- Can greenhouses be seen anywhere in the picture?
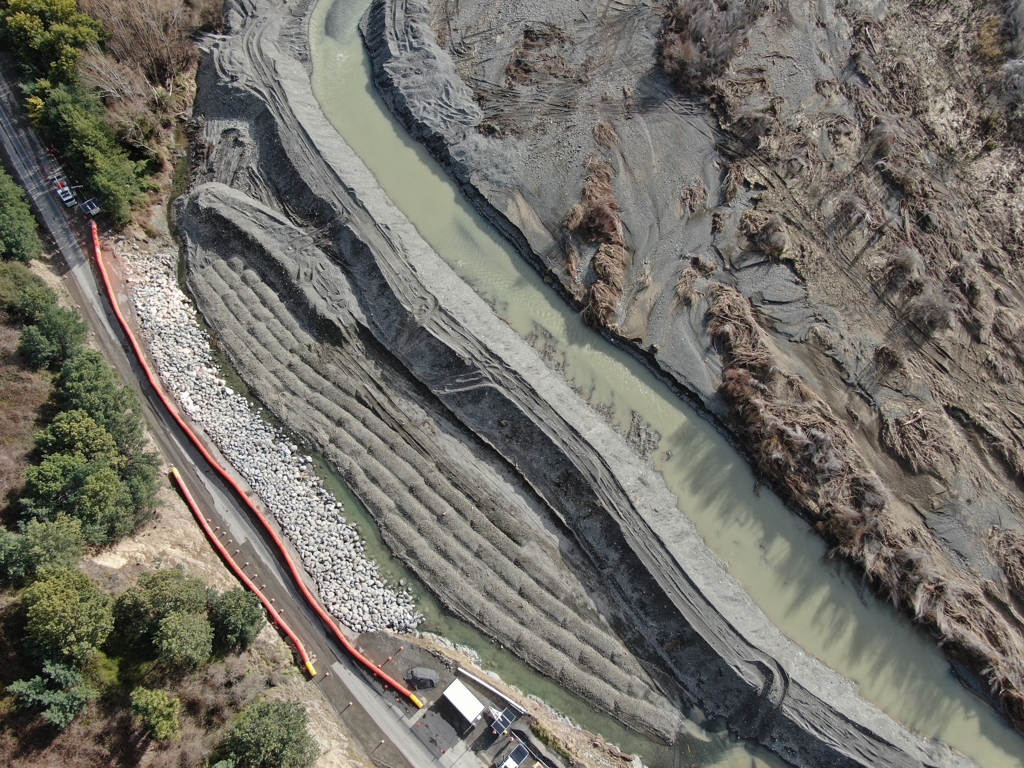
No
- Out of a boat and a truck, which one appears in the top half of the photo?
truck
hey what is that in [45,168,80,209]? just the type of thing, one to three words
truck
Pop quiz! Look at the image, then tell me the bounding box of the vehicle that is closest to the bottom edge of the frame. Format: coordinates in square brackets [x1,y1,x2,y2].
[490,741,531,768]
